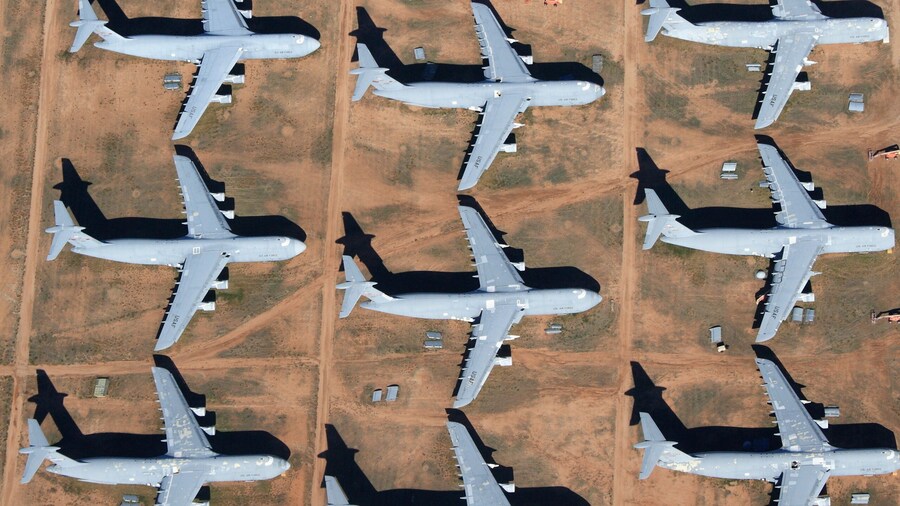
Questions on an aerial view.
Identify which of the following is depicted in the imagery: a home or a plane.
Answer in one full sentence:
There is a plane in the scene.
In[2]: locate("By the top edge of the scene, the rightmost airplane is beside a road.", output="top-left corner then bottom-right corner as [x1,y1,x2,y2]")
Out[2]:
[641,0,888,128]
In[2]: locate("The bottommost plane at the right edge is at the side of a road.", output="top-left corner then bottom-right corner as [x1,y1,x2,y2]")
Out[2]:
[635,358,900,506]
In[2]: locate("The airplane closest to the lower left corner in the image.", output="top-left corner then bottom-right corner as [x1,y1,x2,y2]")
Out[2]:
[19,366,290,506]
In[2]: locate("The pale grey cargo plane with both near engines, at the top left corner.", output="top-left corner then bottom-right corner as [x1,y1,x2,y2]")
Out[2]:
[69,0,321,140]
